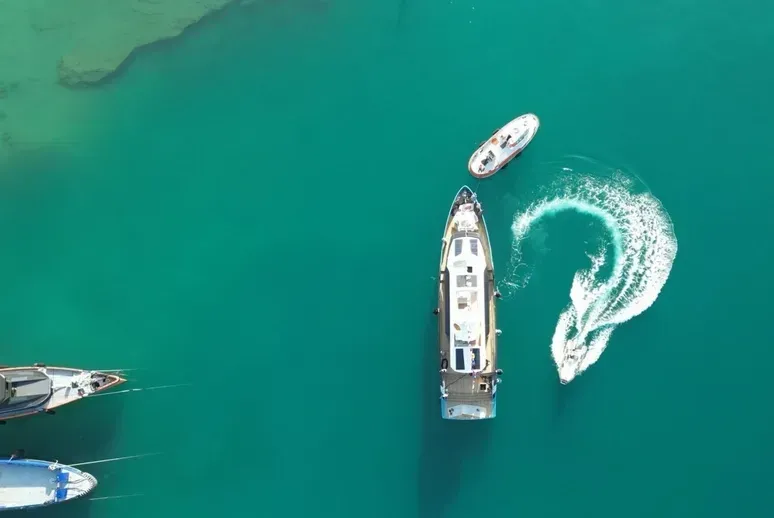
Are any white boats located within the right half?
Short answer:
Yes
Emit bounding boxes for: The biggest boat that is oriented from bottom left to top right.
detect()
[469,113,539,178]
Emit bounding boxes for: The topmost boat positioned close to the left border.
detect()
[0,366,128,420]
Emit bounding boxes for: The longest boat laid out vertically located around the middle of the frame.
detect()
[438,185,497,421]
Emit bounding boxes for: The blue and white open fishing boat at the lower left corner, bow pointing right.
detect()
[0,460,96,510]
